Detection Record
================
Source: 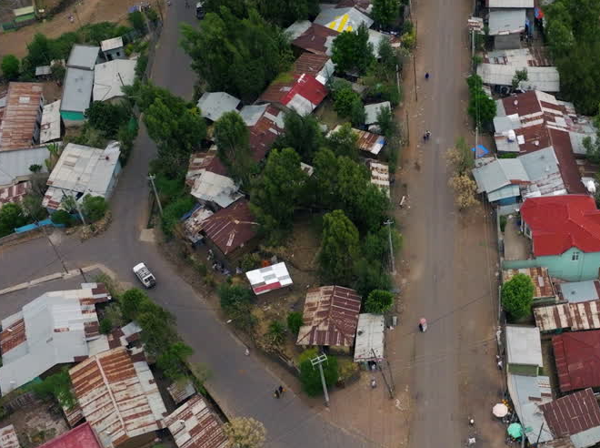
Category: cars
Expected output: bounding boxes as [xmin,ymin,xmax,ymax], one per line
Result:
[132,264,155,287]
